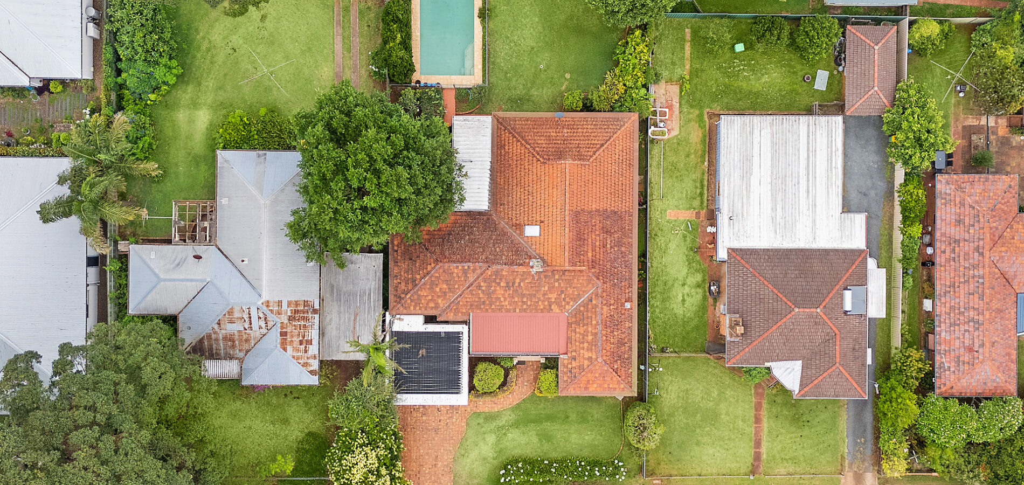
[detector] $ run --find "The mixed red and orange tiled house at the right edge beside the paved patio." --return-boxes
[931,173,1024,398]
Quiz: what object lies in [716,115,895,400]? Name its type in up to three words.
house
